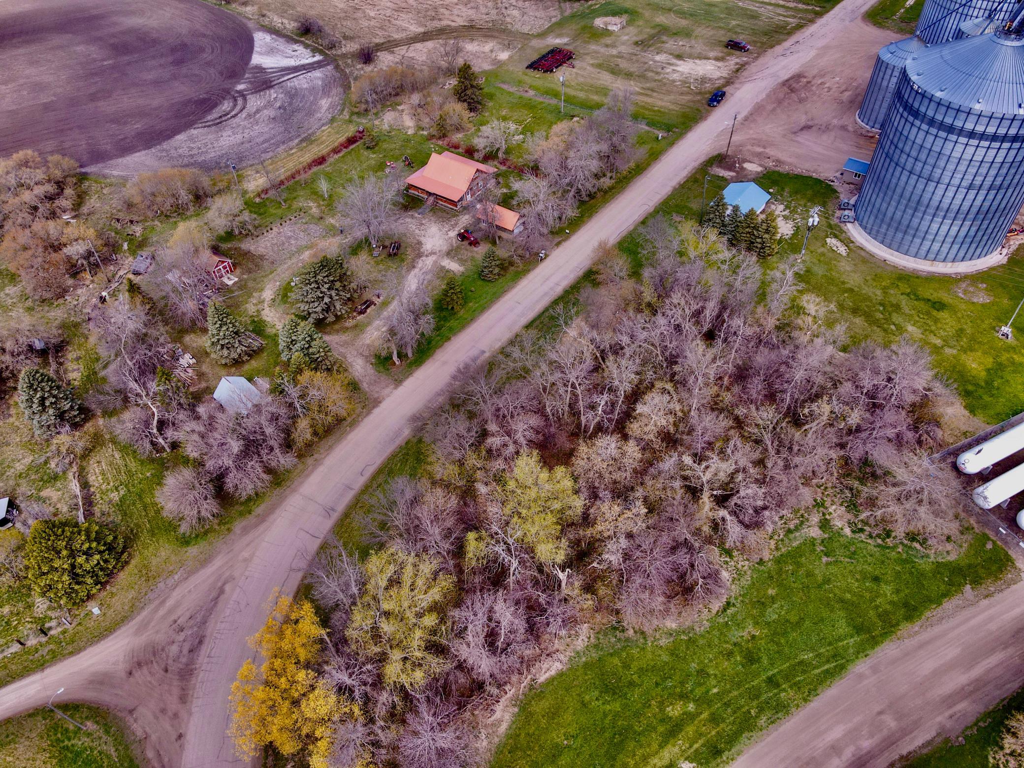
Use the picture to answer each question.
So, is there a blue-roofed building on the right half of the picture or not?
Yes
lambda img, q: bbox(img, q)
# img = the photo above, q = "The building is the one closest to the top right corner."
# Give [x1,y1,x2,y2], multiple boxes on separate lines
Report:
[842,159,873,188]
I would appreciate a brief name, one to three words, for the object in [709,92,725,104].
vehicle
